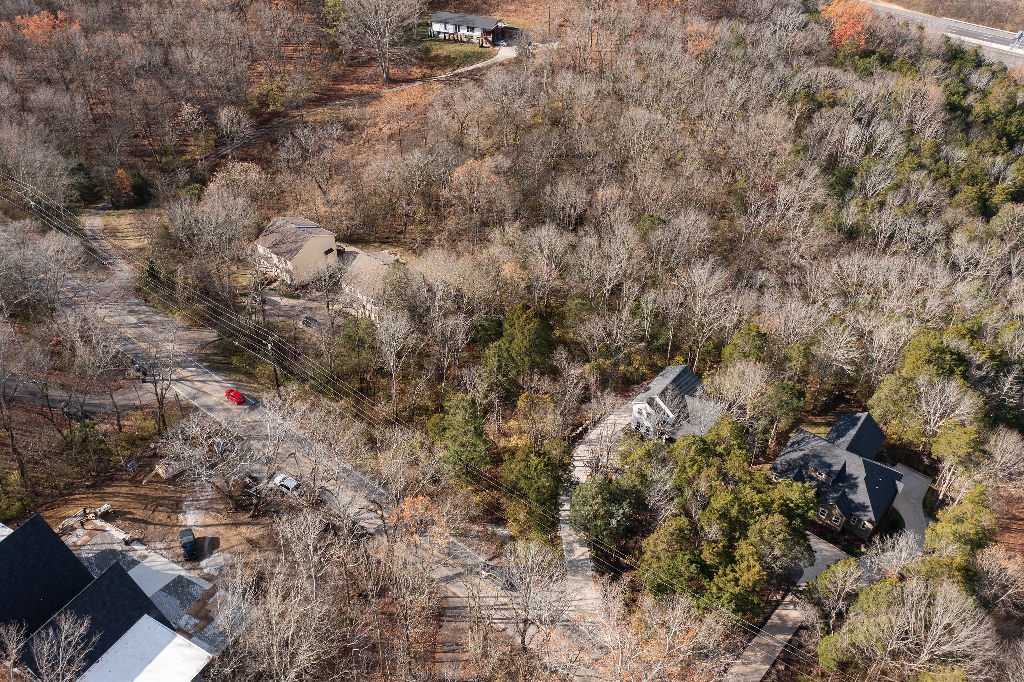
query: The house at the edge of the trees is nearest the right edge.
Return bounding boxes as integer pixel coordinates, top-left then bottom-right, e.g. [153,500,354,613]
[772,413,911,543]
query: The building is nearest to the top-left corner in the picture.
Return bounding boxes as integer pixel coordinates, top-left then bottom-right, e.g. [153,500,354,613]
[250,218,348,290]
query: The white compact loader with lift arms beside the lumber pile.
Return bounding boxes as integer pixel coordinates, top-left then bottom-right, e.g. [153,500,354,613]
[89,499,120,520]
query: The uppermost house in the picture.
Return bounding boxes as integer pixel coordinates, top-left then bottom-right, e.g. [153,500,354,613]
[430,12,506,47]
